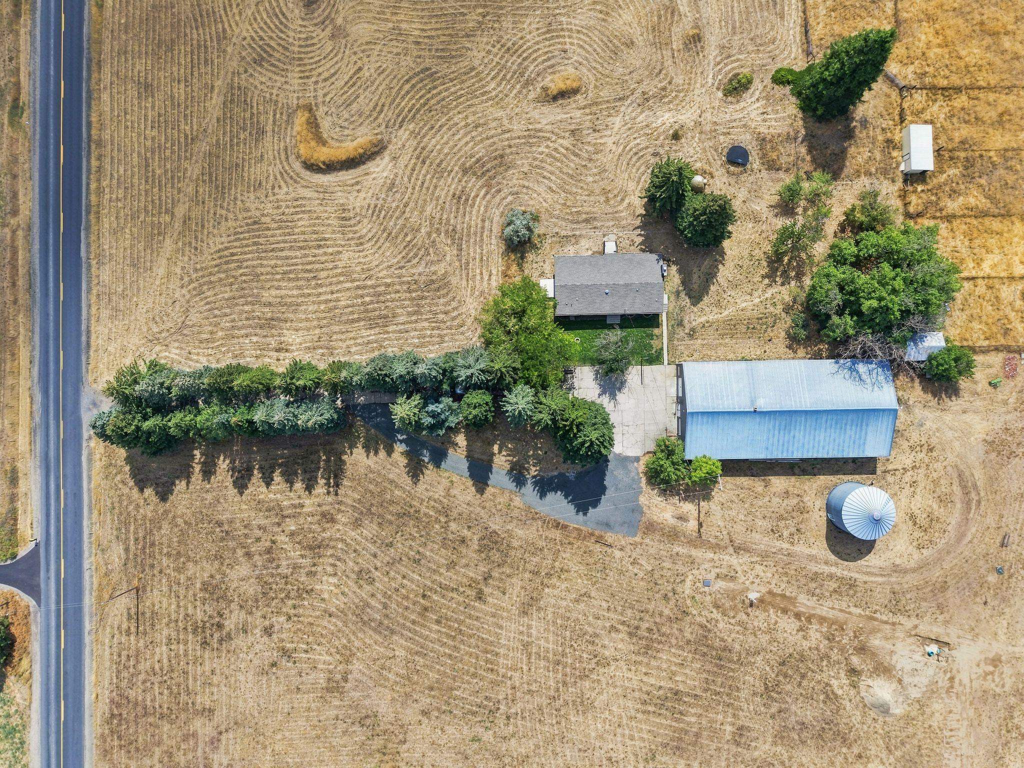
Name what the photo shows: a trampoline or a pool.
trampoline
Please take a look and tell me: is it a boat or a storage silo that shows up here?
storage silo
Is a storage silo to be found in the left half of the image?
No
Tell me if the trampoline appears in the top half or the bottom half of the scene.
top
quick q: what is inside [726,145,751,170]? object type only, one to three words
trampoline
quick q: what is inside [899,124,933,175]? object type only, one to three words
shed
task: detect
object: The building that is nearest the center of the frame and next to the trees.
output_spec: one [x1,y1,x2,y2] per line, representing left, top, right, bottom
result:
[541,239,667,324]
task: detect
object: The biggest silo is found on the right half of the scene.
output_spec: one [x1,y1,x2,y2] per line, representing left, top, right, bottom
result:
[825,480,897,541]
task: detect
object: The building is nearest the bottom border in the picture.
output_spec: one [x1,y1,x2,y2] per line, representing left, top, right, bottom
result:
[677,358,900,461]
